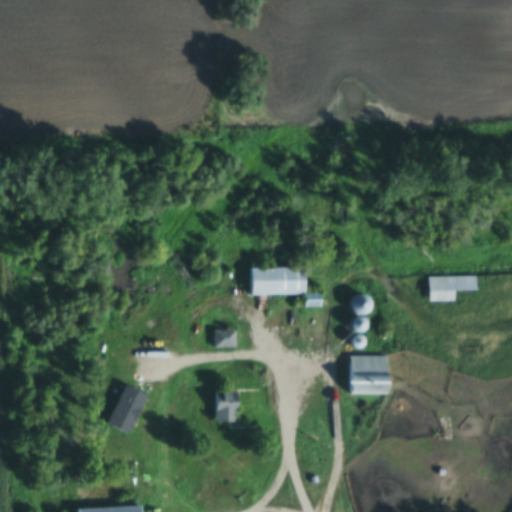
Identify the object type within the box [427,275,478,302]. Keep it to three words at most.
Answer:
shed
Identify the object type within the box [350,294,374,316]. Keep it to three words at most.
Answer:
silo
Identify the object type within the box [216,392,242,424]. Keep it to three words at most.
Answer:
house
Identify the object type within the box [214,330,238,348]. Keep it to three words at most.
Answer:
building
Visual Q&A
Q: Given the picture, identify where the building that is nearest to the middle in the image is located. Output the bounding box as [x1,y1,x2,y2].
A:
[248,264,306,296]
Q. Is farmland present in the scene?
Yes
